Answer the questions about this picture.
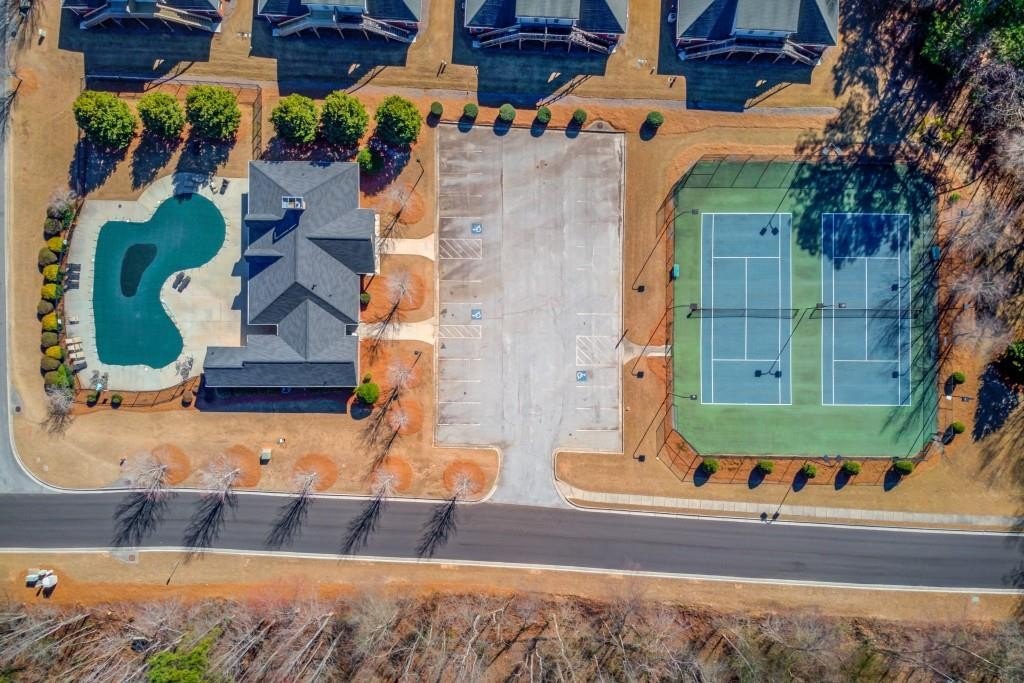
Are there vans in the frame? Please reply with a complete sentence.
No, there appears to be no van in this shot.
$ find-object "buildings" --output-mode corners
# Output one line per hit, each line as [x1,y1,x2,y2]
[61,0,229,32]
[676,0,841,64]
[199,160,381,388]
[257,0,420,41]
[464,0,628,52]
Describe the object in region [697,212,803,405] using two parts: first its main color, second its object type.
blue tennis court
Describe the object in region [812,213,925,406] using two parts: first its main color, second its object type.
blue tennis court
